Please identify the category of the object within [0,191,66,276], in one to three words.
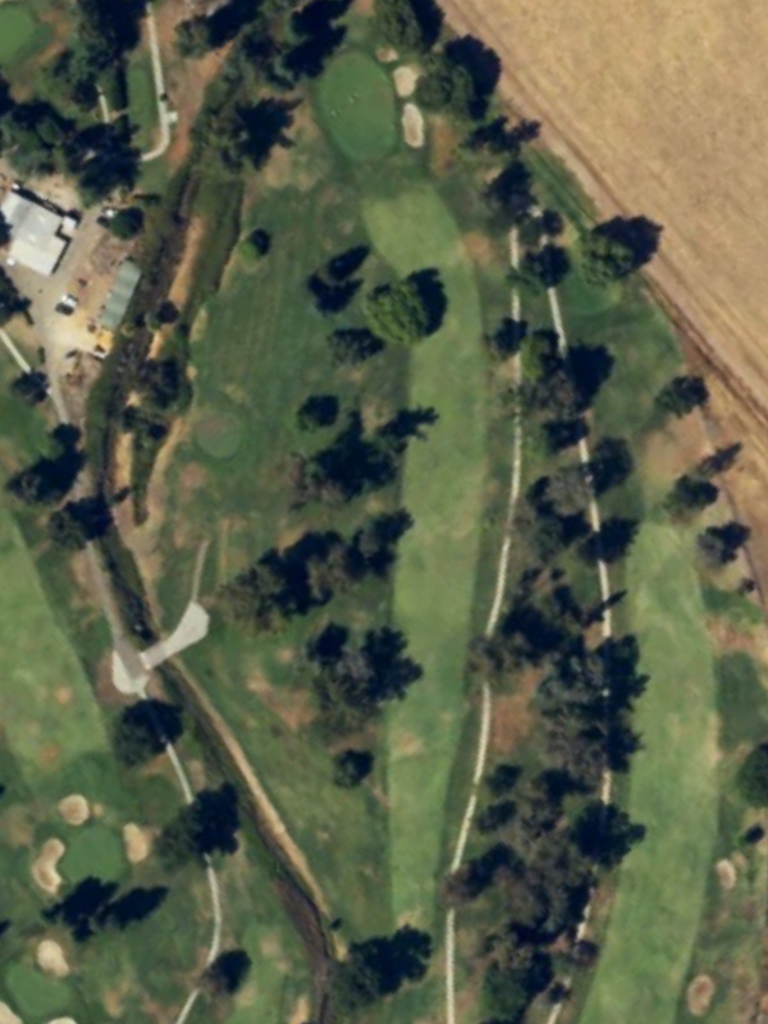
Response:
building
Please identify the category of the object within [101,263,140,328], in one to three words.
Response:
shed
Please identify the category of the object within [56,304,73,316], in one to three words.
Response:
vehicle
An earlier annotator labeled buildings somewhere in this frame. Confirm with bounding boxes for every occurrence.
[0,191,66,276]
[60,216,78,235]
[101,263,140,328]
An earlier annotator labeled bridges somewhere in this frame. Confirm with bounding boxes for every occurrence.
[137,639,175,669]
